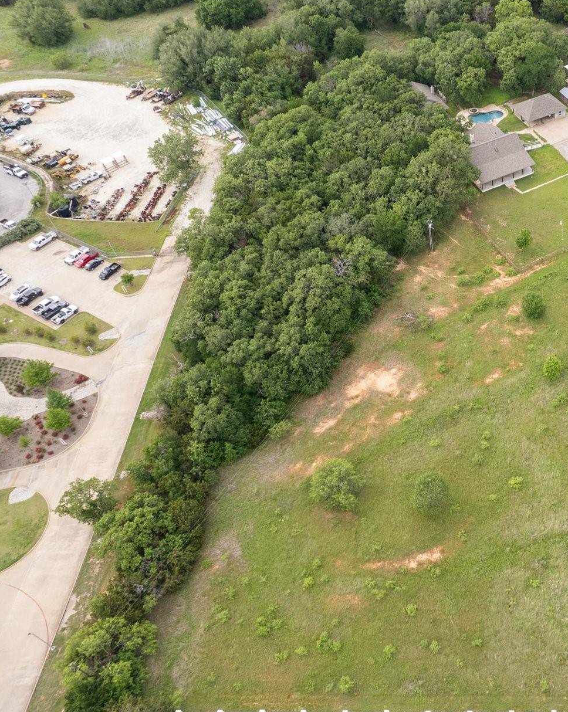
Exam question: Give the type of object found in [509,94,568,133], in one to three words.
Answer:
building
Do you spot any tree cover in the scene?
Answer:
Yes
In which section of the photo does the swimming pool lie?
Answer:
top right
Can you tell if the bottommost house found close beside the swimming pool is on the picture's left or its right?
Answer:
right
